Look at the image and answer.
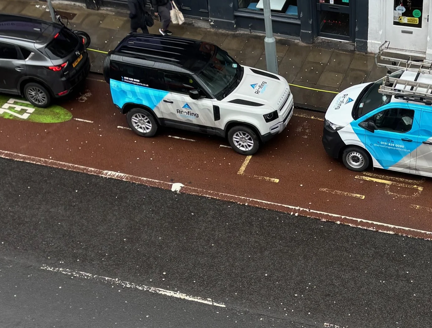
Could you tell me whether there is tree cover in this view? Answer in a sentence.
No, there is no tree cover in the image.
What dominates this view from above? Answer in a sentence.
Most of the picture is covered by paved ground.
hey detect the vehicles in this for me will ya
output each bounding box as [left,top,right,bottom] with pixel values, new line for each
[0,11,96,108]
[326,58,432,172]
[102,25,298,154]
